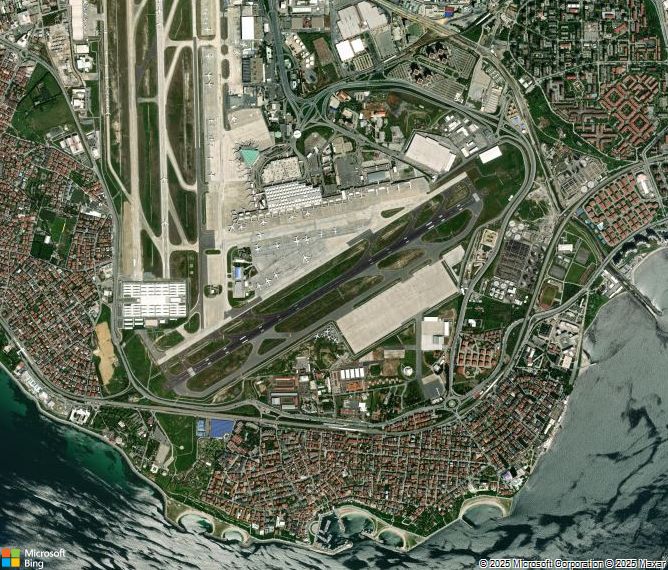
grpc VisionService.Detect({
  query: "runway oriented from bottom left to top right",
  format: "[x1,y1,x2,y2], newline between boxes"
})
[160,191,483,393]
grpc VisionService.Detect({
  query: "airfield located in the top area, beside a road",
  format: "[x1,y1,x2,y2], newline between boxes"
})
[84,0,486,400]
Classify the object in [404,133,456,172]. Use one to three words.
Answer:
building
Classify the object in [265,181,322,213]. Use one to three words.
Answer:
building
